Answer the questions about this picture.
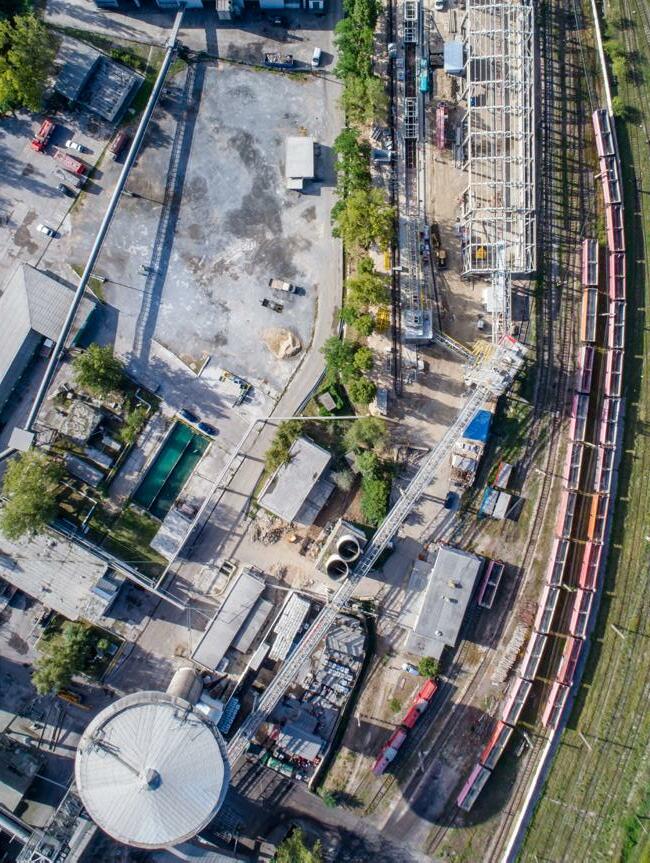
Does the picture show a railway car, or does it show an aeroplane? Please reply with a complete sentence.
This aerial view contains a railway car.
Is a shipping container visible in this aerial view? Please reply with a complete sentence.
Yes, a shipping container is visible in the scene.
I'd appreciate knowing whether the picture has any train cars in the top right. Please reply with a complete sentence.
Yes, a train car appears in the top right.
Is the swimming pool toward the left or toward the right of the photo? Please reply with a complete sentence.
The swimming pool is on the left side of the image.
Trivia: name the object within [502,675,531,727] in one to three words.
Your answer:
rail car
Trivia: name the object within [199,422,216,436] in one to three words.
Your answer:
vehicle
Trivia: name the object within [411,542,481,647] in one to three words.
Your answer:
building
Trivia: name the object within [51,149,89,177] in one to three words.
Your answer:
truck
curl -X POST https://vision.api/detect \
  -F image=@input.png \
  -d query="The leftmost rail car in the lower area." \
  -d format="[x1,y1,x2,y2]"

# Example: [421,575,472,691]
[372,722,407,775]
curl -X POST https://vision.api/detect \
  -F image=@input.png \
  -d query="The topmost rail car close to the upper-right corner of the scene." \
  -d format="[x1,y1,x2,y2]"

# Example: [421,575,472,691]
[593,109,615,158]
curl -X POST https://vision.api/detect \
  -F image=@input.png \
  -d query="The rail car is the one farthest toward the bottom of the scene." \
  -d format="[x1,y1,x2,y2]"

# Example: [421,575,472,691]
[458,761,492,812]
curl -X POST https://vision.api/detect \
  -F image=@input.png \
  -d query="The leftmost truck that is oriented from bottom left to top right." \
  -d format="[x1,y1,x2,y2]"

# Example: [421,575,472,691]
[31,119,57,151]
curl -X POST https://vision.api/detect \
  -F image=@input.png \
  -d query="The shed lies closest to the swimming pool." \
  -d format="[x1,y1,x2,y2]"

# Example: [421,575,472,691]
[149,504,198,560]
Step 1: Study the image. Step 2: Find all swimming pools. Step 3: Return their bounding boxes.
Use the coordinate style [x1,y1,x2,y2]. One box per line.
[130,419,212,519]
